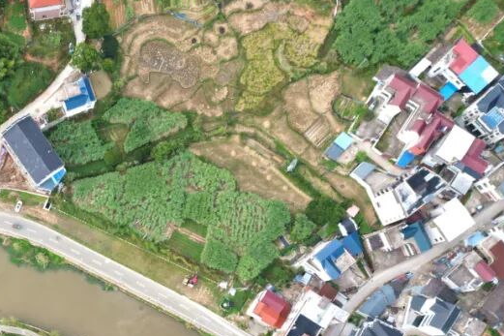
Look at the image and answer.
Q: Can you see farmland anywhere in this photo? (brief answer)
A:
Yes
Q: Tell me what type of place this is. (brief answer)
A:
residential area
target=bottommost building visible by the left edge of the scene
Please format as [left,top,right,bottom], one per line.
[3,115,66,191]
